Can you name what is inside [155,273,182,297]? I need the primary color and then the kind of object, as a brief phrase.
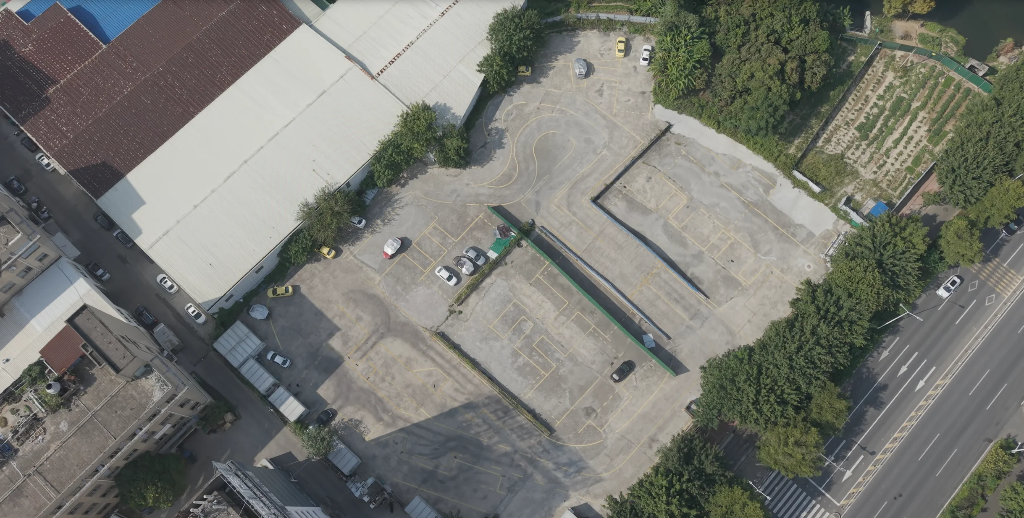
white car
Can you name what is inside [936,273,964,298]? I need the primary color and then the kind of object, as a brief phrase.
white car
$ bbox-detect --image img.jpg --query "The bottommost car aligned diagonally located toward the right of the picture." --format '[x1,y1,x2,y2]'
[608,358,636,384]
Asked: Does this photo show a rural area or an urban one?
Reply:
urban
